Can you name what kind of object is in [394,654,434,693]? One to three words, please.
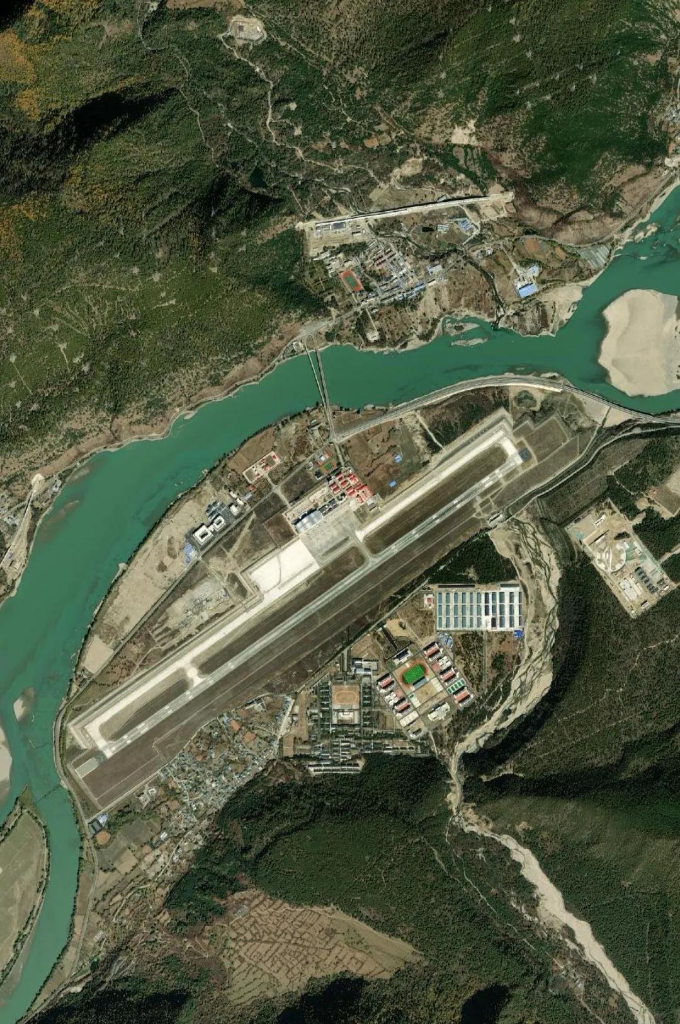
sports field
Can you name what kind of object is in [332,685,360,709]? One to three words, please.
sports field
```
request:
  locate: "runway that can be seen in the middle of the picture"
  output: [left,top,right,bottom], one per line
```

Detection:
[110,460,516,752]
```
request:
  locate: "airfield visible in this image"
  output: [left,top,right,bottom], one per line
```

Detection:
[69,410,598,811]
